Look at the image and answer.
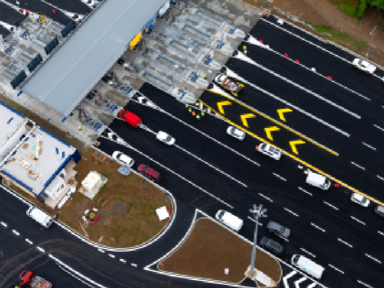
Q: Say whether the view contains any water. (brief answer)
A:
No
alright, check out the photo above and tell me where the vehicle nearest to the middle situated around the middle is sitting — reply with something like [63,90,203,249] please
[156,131,176,146]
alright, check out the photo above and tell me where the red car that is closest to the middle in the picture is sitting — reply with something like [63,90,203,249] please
[138,166,161,182]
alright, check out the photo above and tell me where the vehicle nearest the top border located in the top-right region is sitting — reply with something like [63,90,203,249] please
[351,59,376,75]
